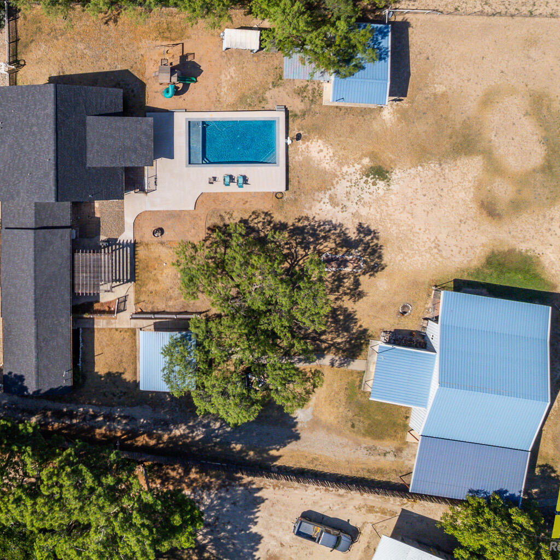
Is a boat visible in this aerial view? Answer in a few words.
No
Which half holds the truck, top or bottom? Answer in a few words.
bottom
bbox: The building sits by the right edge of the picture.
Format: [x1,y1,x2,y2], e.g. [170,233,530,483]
[364,289,552,506]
